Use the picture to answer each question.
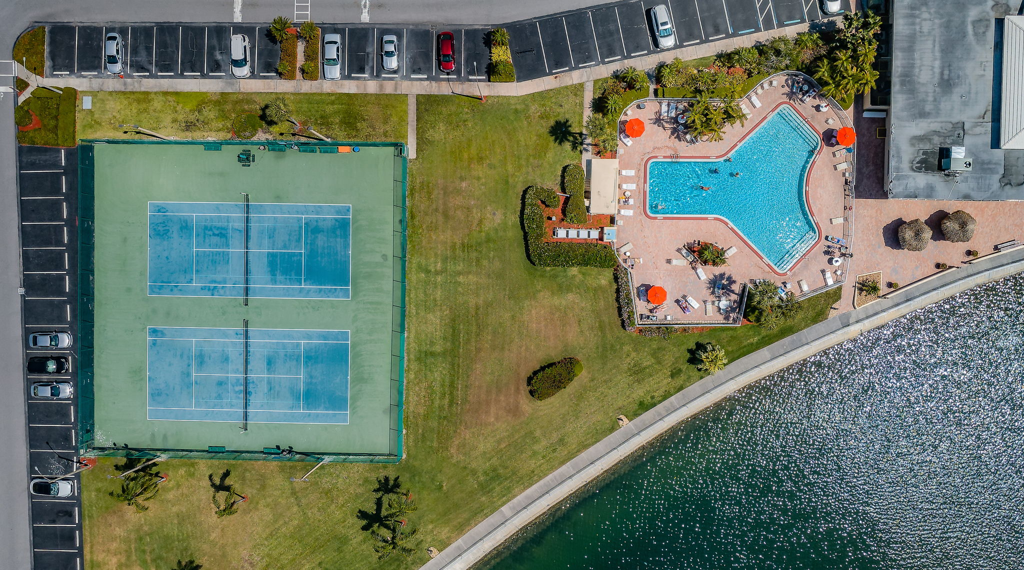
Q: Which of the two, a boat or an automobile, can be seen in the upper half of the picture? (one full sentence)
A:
It is an automobile that can be seen in the upper half of the picture.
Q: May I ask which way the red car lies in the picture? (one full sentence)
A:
From this overhead view, the red car appears to run up and down.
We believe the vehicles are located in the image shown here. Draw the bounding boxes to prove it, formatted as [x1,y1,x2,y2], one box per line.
[820,0,838,18]
[104,32,127,77]
[651,4,674,50]
[31,381,76,400]
[29,331,75,350]
[27,356,73,375]
[381,33,399,73]
[436,30,456,74]
[31,477,76,498]
[322,33,342,81]
[231,34,253,80]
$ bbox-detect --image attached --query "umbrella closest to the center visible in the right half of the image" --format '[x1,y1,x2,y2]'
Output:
[647,285,667,305]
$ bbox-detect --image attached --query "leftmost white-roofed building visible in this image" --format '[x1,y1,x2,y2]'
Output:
[587,159,619,215]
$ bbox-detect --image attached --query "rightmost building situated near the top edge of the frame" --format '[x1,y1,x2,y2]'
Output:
[853,0,1024,199]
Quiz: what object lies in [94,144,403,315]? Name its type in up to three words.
tennis court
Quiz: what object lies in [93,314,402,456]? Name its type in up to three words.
tennis court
